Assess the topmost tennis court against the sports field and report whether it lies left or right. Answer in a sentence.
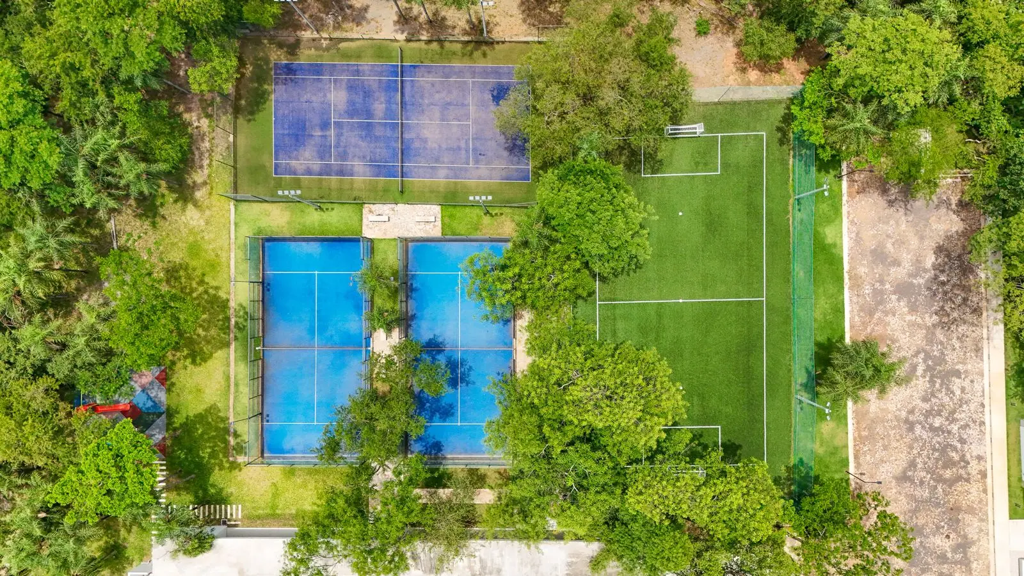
Looking at the photo, the topmost tennis court lies to the left of the sports field.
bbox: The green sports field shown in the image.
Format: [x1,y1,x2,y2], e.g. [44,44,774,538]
[571,99,794,502]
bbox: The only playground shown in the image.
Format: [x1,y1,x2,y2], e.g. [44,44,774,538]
[75,366,166,459]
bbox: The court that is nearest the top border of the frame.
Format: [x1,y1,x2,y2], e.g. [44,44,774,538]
[234,41,570,205]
